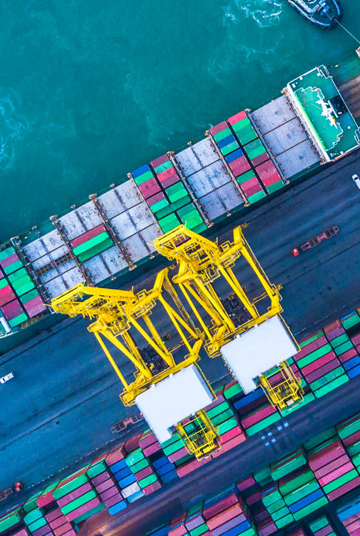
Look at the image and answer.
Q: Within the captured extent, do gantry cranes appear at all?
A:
Yes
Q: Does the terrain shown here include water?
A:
Yes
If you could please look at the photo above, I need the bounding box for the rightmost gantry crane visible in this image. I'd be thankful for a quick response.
[151,217,308,418]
